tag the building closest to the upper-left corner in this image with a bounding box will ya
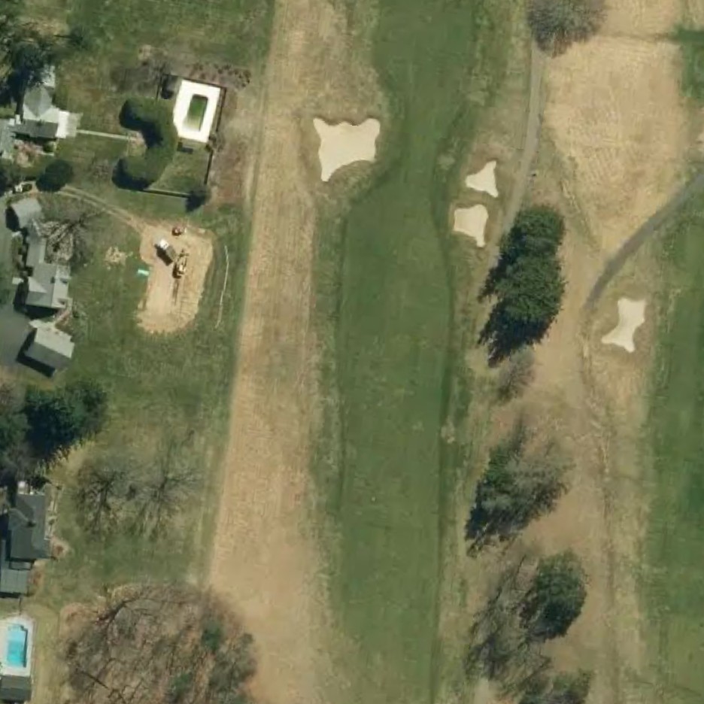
[0,66,82,160]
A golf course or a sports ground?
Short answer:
golf course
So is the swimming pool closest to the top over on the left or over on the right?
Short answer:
left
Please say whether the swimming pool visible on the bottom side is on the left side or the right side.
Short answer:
left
